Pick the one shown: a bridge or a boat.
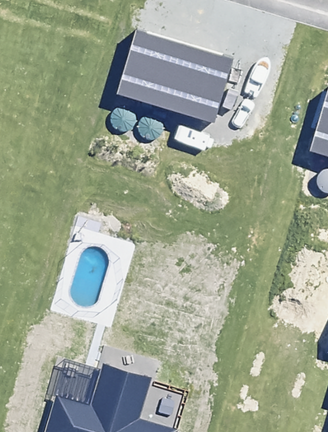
boat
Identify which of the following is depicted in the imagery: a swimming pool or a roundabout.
swimming pool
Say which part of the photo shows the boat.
top right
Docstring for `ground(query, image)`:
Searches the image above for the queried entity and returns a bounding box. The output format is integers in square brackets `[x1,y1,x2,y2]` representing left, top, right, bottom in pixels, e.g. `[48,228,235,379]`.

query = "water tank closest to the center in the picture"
[138,115,164,140]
